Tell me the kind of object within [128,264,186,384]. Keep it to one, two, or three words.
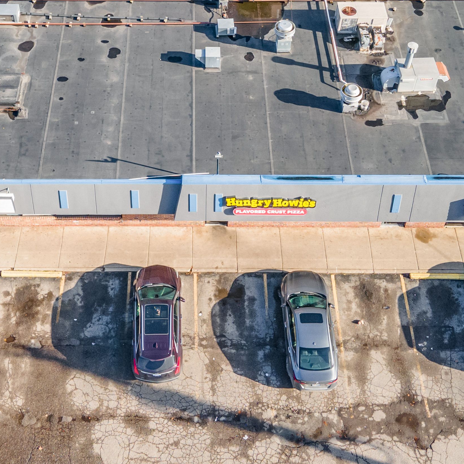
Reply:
car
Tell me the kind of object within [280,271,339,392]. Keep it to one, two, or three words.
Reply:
car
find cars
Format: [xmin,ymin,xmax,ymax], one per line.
[280,271,339,392]
[128,264,186,384]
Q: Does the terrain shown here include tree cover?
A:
No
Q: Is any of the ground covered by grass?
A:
No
